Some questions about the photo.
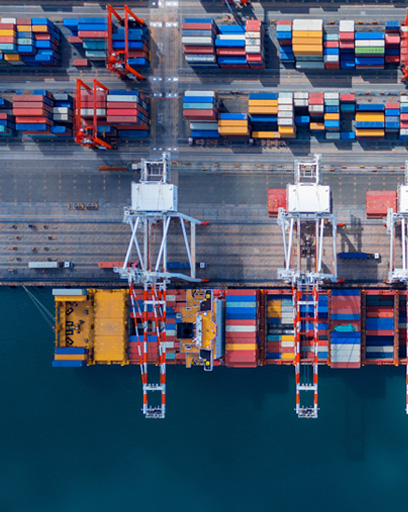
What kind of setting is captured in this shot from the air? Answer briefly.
port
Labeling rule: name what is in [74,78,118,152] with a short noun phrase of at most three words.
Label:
crane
